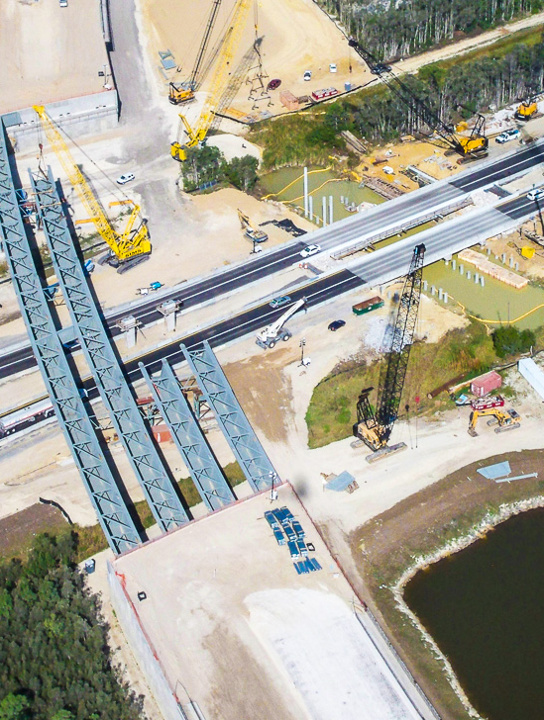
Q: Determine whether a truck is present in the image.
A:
Yes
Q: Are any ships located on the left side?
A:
No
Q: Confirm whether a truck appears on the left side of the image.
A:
Yes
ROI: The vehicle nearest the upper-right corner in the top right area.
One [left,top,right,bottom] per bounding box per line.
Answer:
[516,92,538,115]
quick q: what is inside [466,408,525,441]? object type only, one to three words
work vehicle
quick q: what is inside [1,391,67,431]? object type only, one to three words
truck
